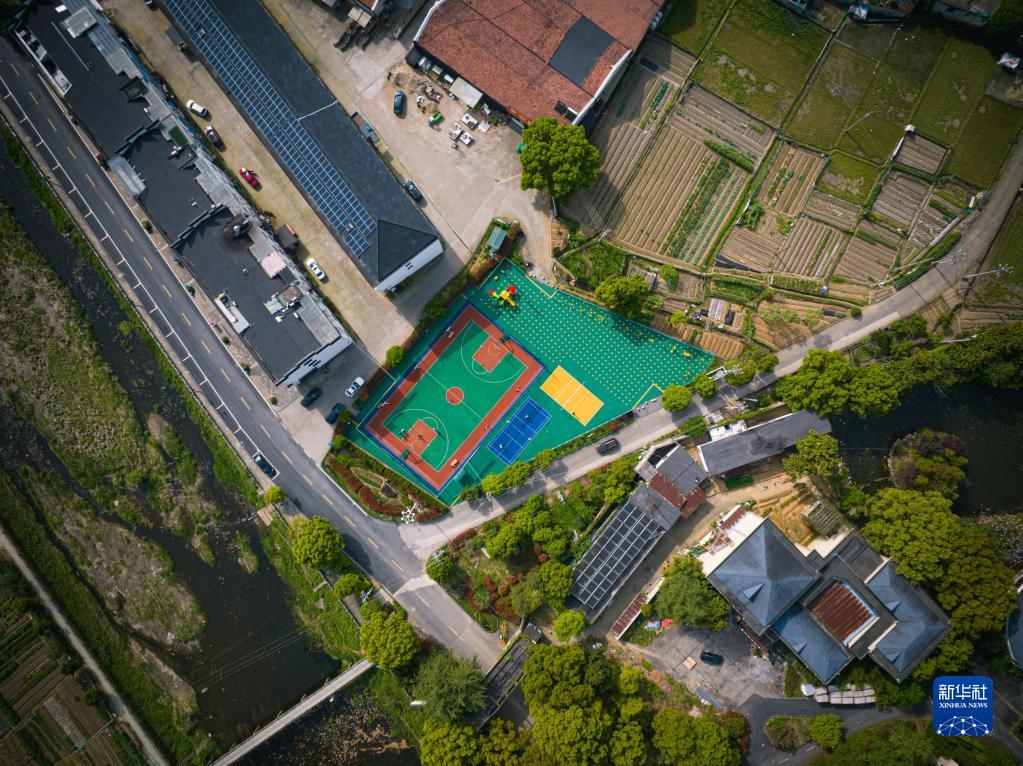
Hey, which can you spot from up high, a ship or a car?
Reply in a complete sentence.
Visible in the photo is a car.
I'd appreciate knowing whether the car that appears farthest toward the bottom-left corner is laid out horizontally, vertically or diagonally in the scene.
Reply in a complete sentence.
From this overhead view, the car that appears farthest toward the bottom-left corner appears to run diagonally.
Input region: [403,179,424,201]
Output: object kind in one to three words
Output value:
car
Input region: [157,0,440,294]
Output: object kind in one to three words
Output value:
building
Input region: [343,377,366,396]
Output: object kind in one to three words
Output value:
car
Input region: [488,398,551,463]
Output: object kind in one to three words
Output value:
sports court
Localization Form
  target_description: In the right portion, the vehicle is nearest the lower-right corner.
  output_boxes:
[700,651,724,664]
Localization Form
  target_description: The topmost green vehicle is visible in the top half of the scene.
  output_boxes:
[429,109,444,124]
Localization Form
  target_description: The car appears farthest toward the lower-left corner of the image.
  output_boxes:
[254,453,275,475]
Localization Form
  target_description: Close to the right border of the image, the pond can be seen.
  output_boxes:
[833,383,1023,514]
